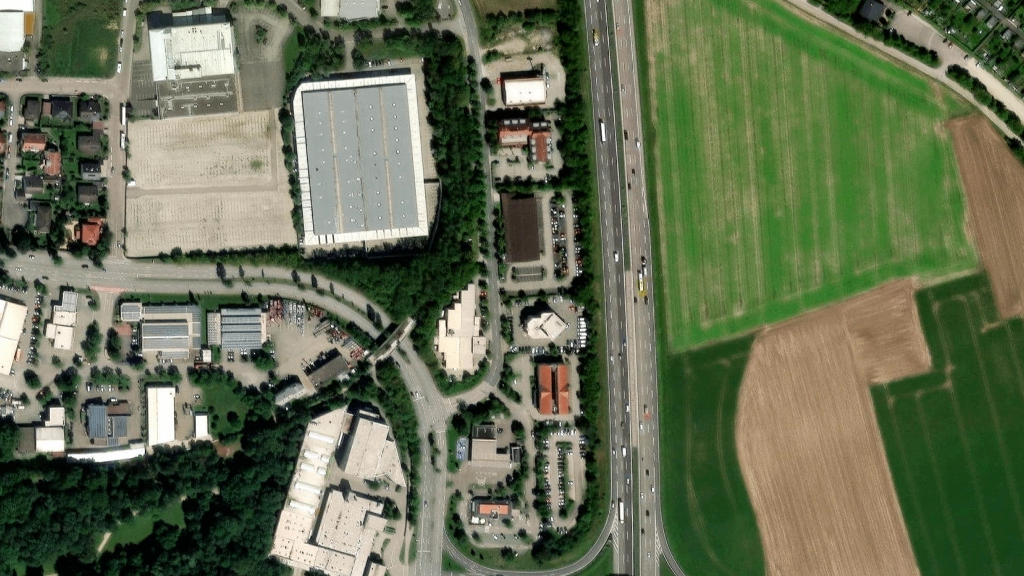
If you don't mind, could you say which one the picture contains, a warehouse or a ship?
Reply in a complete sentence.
The image shows a warehouse.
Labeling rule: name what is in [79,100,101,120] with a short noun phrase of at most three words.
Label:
house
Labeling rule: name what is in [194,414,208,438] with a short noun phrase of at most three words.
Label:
shed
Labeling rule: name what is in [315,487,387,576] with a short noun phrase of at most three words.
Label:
building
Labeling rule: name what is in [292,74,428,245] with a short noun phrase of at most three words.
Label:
warehouse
